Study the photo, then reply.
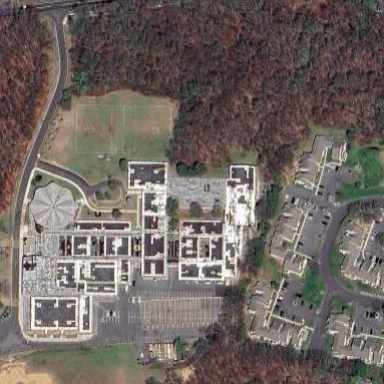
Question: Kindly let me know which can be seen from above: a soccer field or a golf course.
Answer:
soccer field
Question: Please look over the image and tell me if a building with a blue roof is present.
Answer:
No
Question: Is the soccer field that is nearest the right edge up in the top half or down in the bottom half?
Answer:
top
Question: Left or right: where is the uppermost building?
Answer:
right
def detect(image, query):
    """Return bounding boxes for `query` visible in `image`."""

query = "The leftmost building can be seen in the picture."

[29,181,78,230]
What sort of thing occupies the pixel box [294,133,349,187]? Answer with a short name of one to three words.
building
